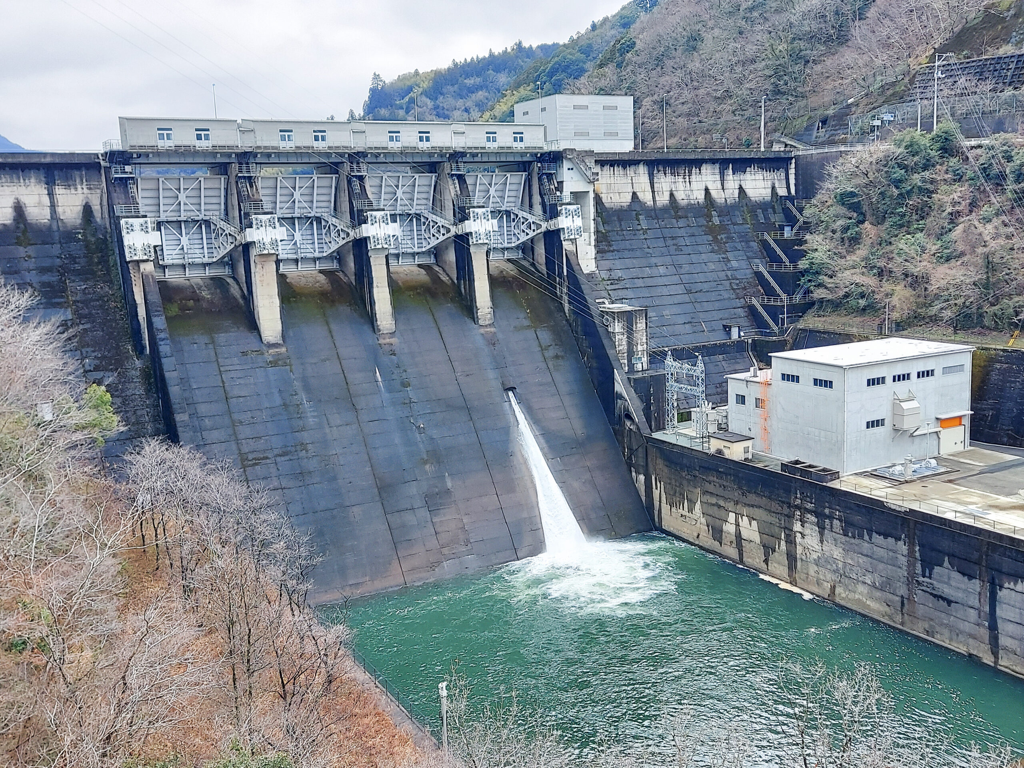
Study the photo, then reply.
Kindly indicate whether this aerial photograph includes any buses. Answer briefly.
No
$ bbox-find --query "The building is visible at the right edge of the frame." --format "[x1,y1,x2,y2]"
[721,341,982,474]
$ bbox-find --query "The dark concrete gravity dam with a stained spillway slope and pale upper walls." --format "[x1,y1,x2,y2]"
[0,150,848,603]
